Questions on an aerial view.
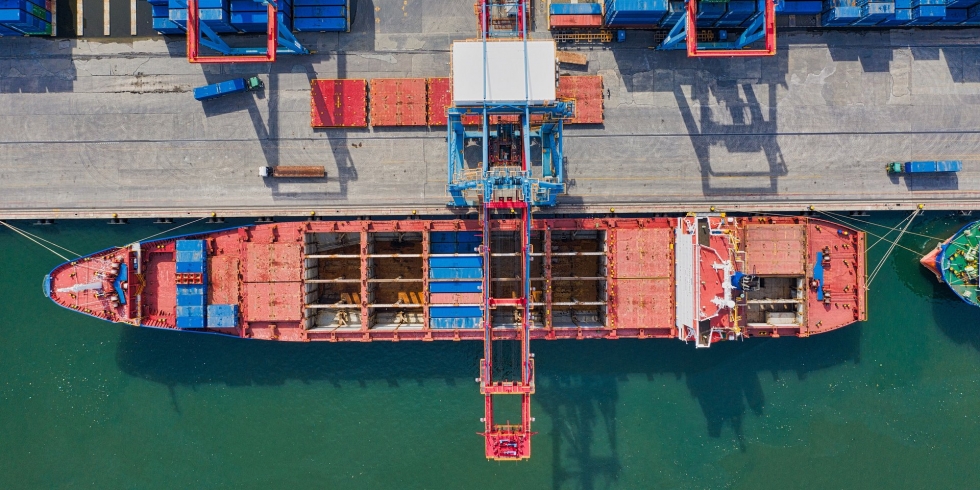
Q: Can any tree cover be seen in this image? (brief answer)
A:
No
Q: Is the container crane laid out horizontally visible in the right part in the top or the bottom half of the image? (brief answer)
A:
top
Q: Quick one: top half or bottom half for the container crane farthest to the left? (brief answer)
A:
top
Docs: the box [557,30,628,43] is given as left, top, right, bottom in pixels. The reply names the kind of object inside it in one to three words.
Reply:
vehicle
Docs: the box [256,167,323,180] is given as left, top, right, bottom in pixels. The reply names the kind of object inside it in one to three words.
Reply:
vehicle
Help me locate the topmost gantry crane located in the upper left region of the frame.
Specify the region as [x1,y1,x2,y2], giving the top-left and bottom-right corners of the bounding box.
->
[187,0,319,65]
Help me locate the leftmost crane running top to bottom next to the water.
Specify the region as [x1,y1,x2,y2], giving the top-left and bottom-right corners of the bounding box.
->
[444,0,576,465]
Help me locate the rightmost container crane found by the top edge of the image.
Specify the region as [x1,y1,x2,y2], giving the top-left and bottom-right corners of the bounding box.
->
[646,0,778,58]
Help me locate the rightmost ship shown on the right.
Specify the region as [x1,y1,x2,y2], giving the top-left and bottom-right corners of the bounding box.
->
[922,221,980,304]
